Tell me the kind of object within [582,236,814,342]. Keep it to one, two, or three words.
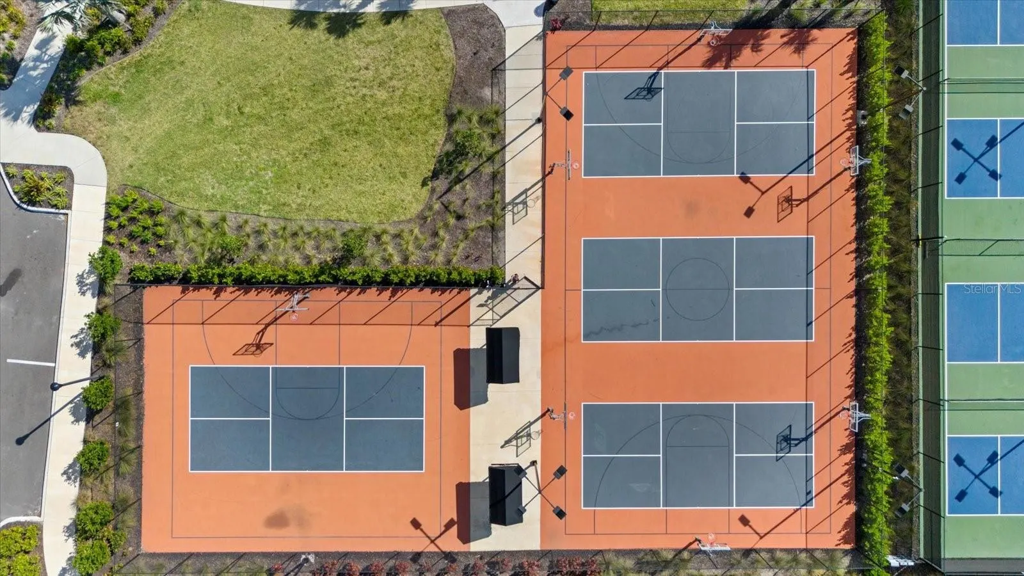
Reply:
sports court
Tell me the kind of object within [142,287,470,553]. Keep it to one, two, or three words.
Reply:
basketball court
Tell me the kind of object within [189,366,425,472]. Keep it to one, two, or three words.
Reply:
sports court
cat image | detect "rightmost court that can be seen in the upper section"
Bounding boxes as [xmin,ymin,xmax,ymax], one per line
[947,0,1024,199]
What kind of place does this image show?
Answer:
sports ground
